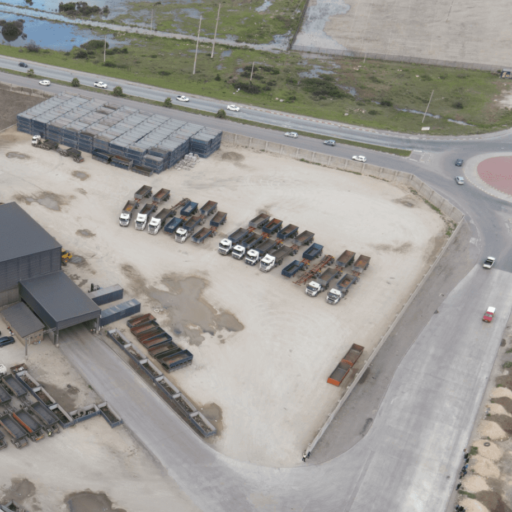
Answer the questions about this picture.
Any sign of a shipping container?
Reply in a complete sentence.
Yes, there is a shipping container in the image.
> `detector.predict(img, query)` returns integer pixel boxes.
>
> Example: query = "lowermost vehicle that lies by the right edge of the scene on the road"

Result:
[483,303,497,321]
